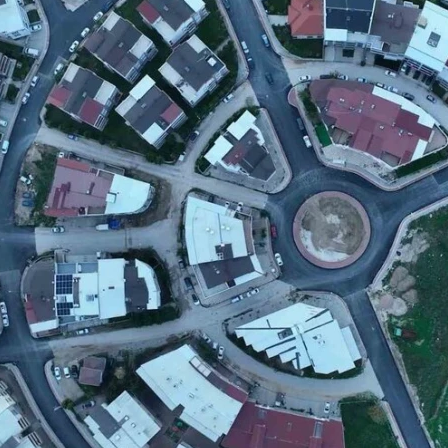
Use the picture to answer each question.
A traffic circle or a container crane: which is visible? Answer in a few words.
traffic circle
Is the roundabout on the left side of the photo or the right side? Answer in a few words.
right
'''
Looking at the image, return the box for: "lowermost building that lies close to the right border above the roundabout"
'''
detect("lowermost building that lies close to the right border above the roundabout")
[310,79,434,168]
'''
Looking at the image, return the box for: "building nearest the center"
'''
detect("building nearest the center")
[184,195,264,298]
